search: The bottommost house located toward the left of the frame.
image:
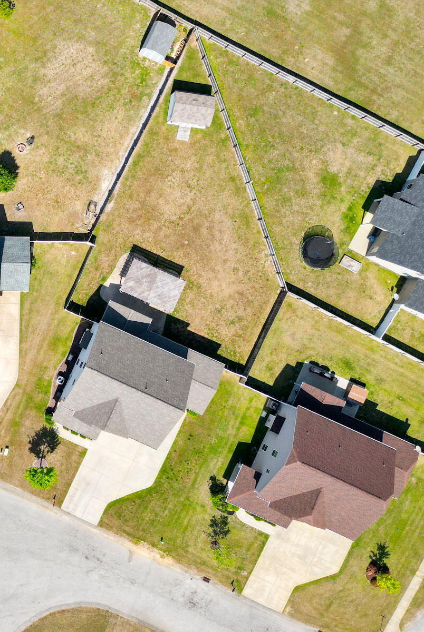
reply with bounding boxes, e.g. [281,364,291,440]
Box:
[51,300,225,451]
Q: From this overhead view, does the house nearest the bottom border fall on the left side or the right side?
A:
right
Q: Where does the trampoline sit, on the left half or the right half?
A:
right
